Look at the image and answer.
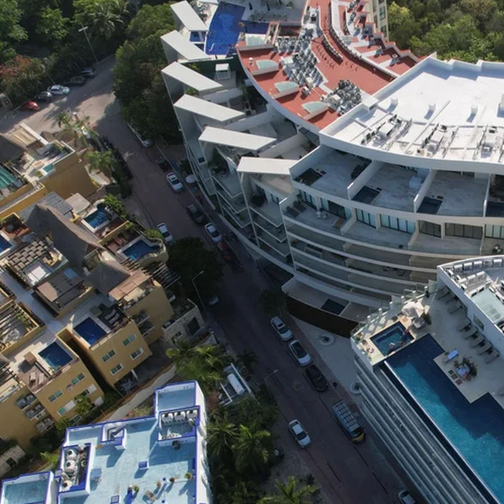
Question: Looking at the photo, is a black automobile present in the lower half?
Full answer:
Yes, a black automobile shows up in the lower half.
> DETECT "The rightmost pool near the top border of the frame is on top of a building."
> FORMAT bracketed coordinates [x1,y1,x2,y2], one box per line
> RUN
[206,1,269,52]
